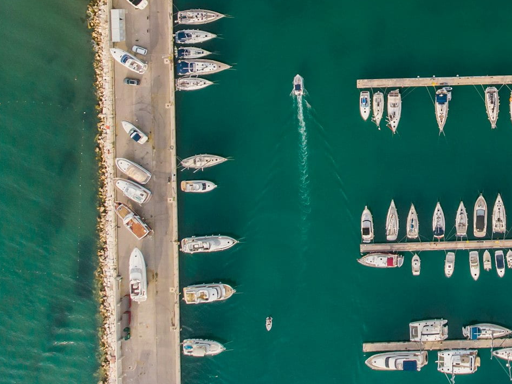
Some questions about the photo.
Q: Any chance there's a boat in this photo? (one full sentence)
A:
Yes, a boat is visible in the scene.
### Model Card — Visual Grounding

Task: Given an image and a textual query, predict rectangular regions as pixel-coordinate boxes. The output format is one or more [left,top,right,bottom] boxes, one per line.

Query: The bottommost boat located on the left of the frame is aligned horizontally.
[181,342,225,359]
